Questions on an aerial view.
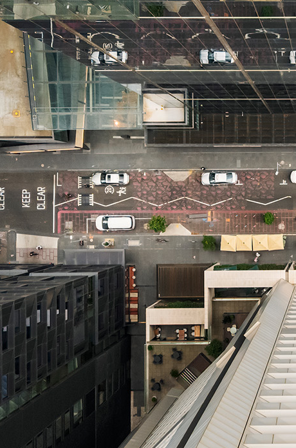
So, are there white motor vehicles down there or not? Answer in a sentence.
Yes, a white motor vehicle is visible in the scene.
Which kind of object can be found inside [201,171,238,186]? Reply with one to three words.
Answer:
car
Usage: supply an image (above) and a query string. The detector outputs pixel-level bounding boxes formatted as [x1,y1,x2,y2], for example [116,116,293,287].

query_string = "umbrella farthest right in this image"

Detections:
[268,234,283,250]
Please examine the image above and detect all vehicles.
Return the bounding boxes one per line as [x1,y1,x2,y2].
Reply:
[96,214,135,232]
[91,169,129,187]
[201,171,238,186]
[290,169,296,184]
